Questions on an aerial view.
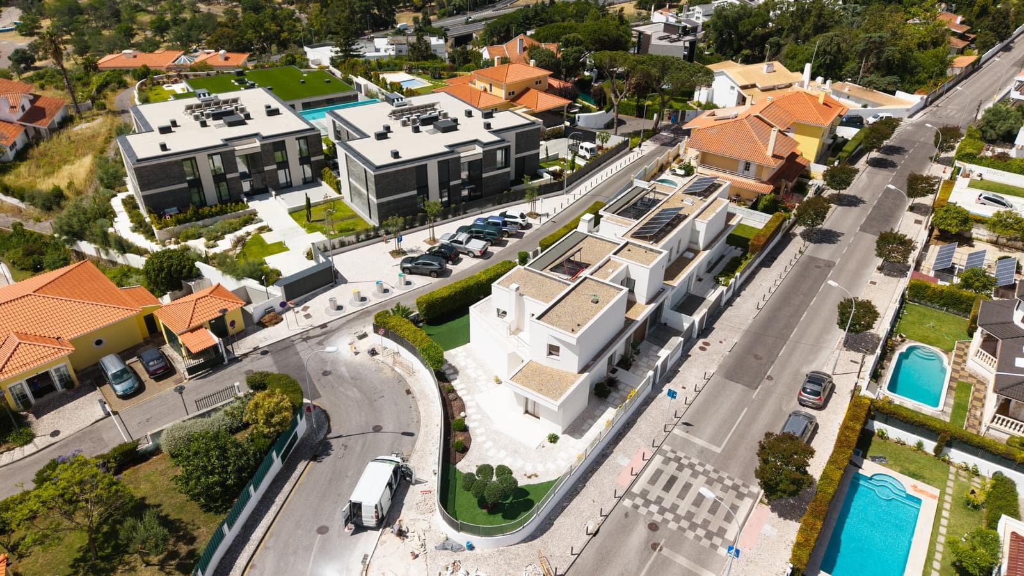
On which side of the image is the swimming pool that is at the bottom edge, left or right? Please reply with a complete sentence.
The swimming pool that is at the bottom edge sits on the right side.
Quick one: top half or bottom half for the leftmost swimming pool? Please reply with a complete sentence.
You can find the leftmost swimming pool in the top half.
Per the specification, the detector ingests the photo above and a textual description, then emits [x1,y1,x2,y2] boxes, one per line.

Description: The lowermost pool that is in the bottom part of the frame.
[814,466,928,576]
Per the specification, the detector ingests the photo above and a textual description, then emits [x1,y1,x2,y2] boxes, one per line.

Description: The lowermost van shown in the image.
[341,455,403,532]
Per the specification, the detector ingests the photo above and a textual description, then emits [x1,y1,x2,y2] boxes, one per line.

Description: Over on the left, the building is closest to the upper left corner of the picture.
[0,80,67,157]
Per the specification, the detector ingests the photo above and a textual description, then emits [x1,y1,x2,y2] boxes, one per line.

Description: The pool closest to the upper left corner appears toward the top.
[296,97,384,130]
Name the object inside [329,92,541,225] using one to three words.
building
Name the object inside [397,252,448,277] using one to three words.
car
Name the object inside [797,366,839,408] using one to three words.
car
